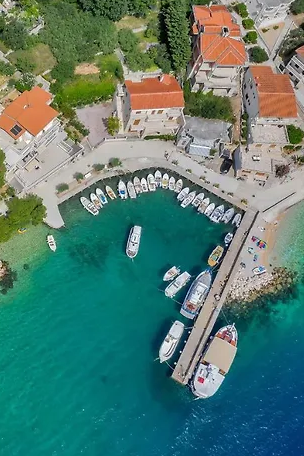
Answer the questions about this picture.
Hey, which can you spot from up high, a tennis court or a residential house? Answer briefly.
residential house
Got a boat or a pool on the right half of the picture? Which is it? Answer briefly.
boat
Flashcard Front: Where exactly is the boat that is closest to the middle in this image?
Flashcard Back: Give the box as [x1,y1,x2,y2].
[128,223,142,260]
